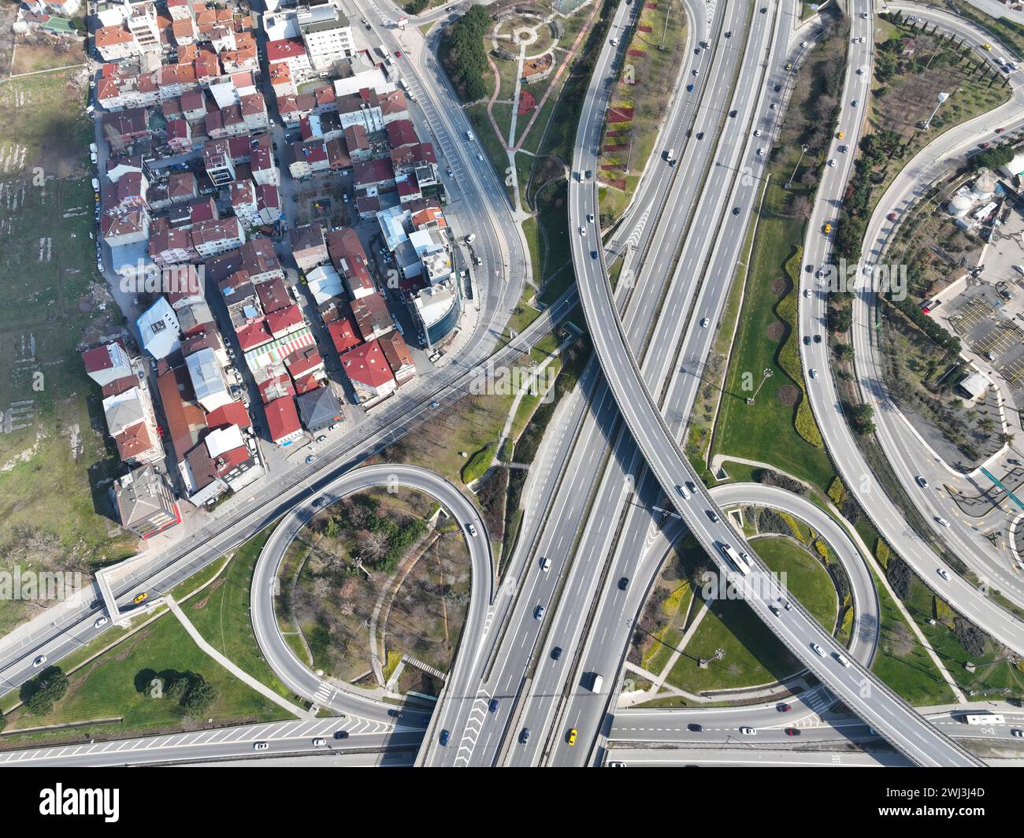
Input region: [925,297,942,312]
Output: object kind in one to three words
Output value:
vehicle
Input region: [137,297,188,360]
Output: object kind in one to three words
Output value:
building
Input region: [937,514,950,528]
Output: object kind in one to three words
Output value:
vehicle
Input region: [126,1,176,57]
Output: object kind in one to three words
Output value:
house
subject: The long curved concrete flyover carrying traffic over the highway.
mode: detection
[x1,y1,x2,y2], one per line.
[566,0,1024,838]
